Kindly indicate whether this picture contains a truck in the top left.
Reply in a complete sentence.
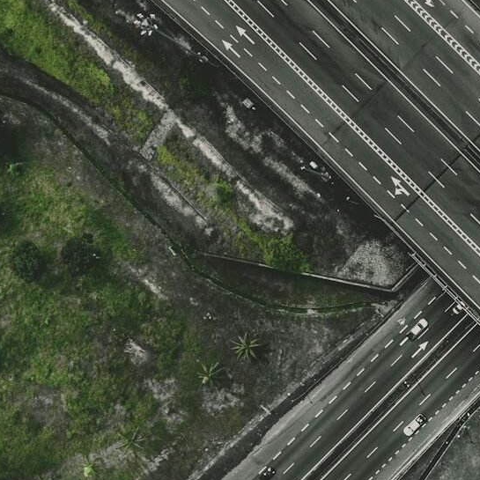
No, I see no truck in the top left.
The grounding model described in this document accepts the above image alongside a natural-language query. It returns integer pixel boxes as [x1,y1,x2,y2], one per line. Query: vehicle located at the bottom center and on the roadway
[255,464,276,480]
